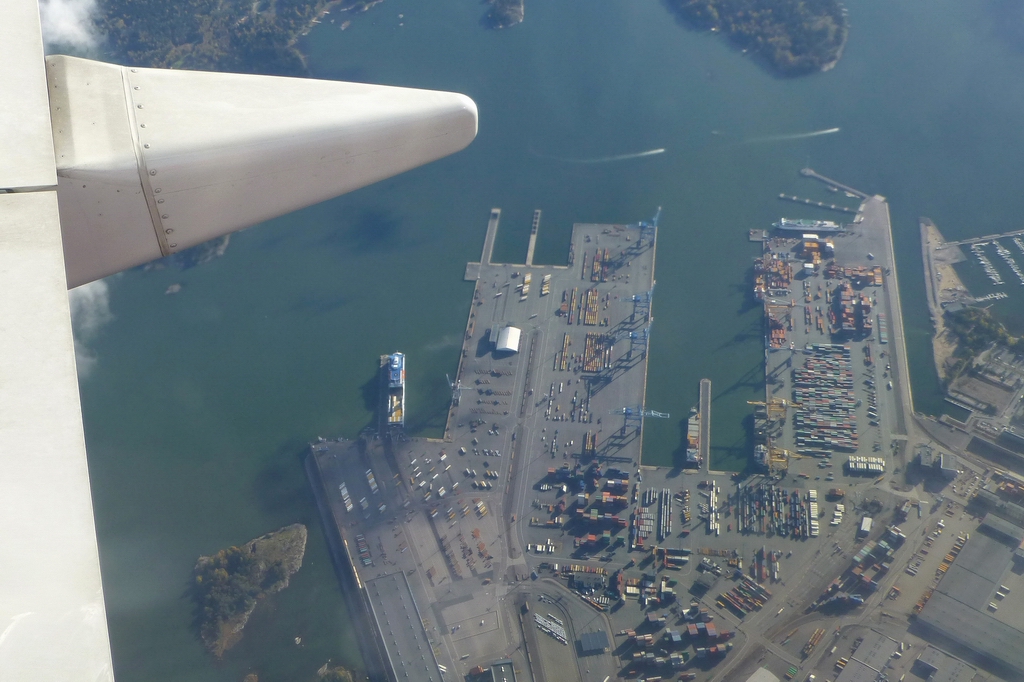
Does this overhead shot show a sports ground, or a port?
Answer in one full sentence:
The area seen from above is a port.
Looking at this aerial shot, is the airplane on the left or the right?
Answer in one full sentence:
The airplane sits on the left side.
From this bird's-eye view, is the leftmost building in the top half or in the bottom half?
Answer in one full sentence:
The bottom half of the photo is where the leftmost building is.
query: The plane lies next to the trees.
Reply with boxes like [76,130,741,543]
[0,0,478,682]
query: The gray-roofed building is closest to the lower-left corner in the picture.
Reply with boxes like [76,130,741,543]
[365,571,443,682]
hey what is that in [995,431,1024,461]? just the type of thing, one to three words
building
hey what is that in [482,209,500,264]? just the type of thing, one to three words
pier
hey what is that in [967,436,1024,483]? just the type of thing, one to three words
building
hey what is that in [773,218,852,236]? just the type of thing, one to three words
ship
